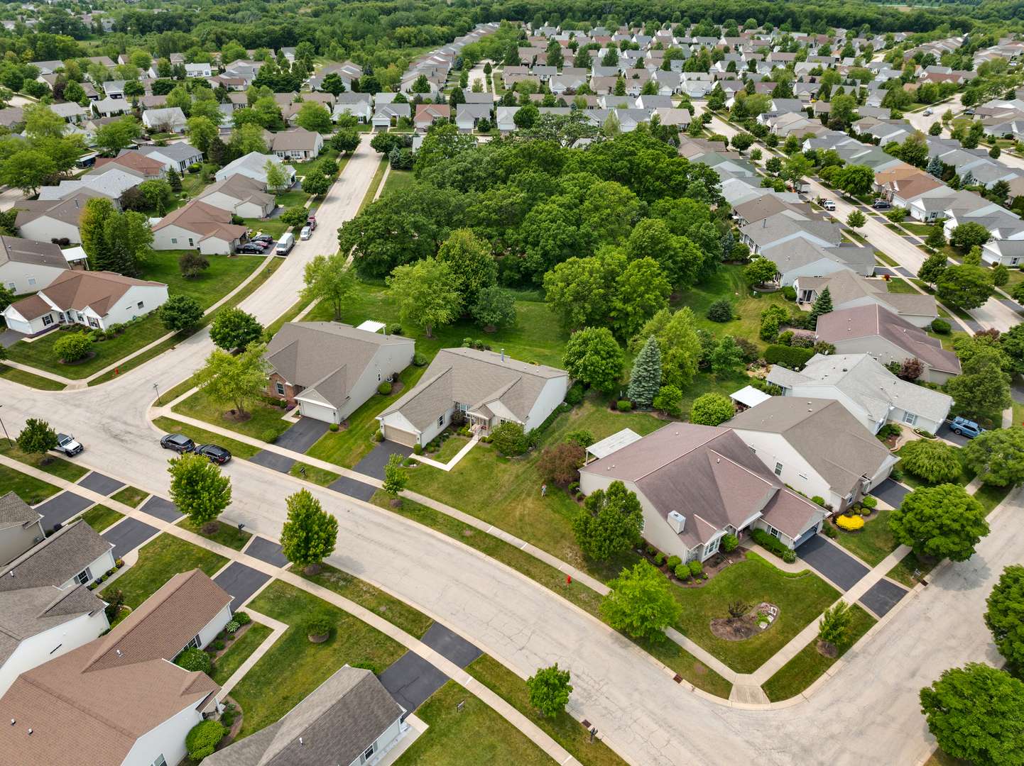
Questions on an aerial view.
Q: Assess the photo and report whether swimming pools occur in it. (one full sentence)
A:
No, no swimming pool can be seen from above.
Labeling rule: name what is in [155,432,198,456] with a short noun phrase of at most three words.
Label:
car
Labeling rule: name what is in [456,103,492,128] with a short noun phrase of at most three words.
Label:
house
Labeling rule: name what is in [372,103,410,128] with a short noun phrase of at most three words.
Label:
house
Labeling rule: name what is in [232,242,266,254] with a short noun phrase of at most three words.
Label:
vehicle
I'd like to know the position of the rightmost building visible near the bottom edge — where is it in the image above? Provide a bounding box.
[170,666,408,766]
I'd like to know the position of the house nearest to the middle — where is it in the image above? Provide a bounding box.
[375,349,568,449]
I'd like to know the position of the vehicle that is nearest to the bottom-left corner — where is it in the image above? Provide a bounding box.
[51,429,84,458]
